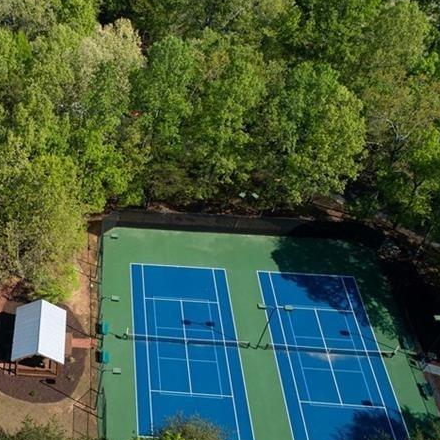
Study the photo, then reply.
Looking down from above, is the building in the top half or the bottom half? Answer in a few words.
bottom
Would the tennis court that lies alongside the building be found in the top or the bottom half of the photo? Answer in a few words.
bottom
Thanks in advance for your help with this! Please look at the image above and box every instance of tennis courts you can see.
[101,229,273,440]
[234,234,440,440]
